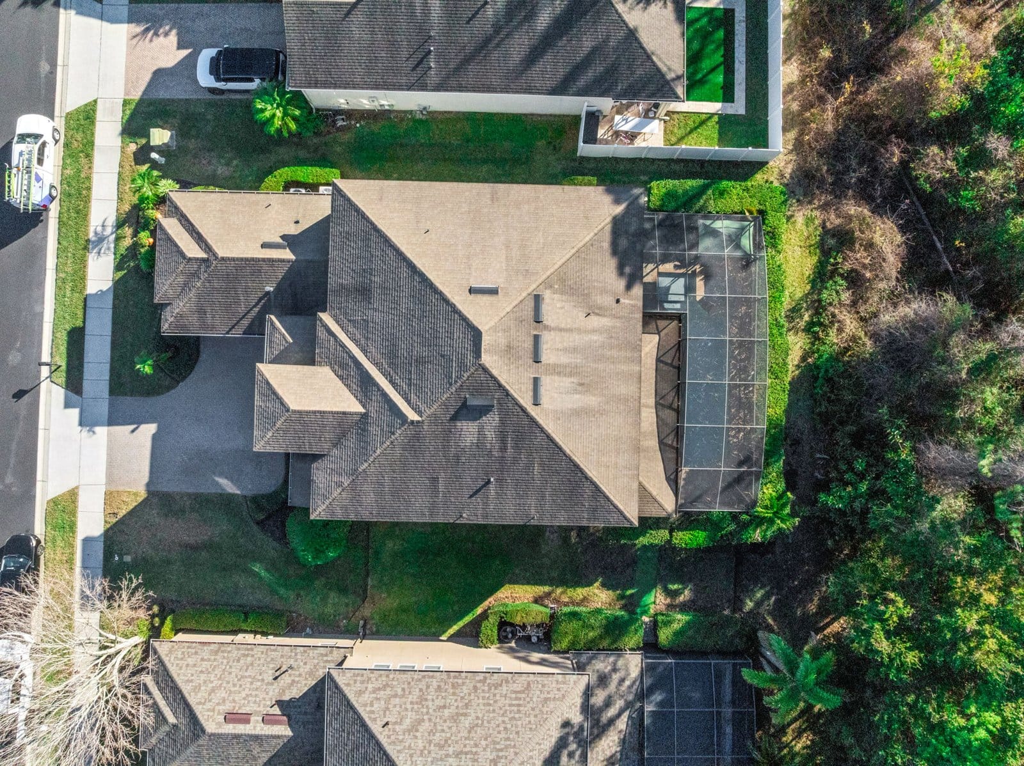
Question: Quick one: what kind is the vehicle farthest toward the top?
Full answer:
It turns out the vehicle farthest toward the top is an automobile.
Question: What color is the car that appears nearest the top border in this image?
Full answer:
In this view, the car that appears nearest the top border is black.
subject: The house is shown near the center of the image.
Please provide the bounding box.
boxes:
[153,178,682,528]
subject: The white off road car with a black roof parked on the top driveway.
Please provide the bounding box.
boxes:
[195,45,284,93]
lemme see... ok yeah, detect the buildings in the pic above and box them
[153,178,682,528]
[278,0,686,117]
[138,631,644,766]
